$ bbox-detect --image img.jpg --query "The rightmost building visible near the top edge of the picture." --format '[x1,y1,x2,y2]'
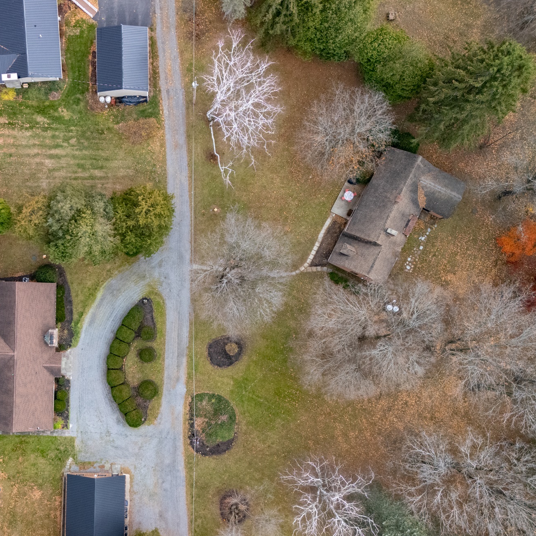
[96,24,148,96]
